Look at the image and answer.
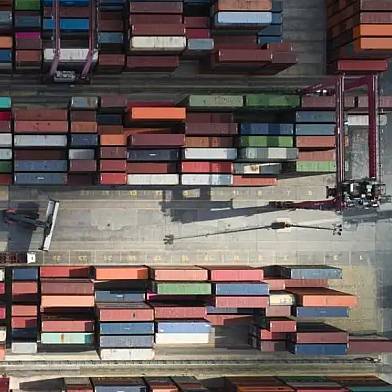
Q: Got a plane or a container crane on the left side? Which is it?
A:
container crane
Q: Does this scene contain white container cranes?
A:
No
